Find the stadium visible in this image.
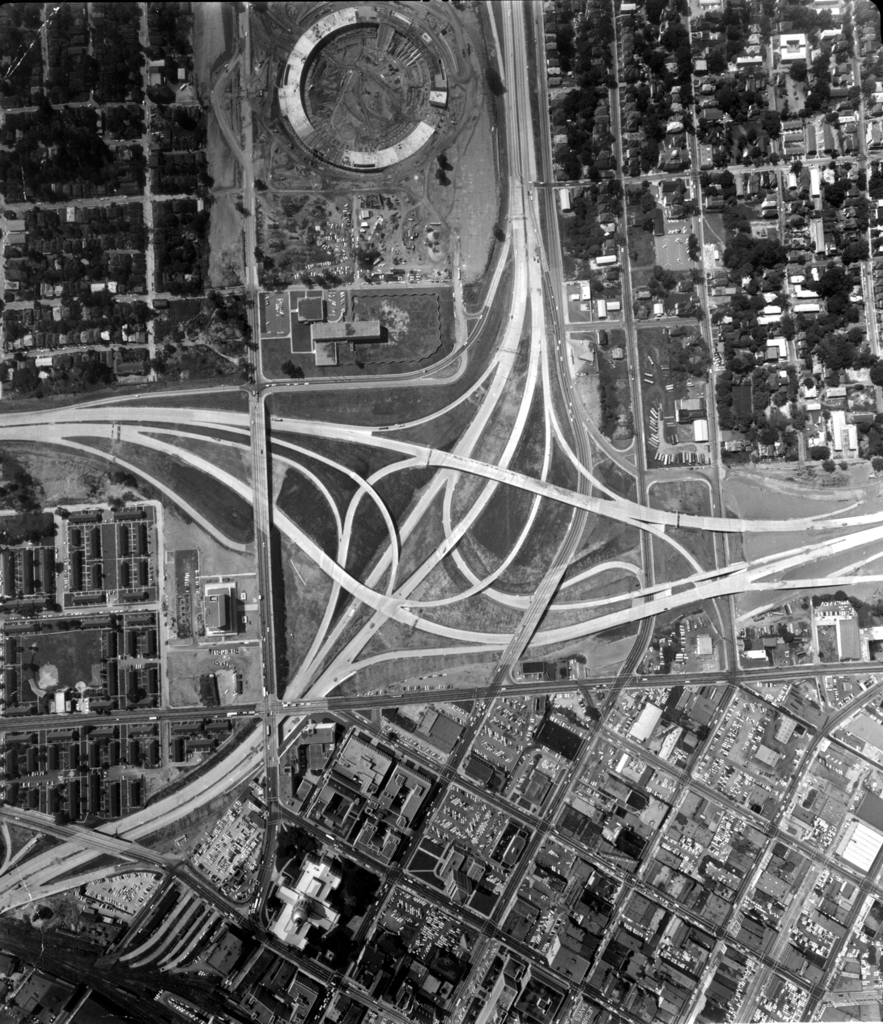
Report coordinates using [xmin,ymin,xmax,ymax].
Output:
[278,6,446,175]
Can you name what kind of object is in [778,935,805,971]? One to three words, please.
building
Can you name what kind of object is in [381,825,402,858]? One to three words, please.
building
